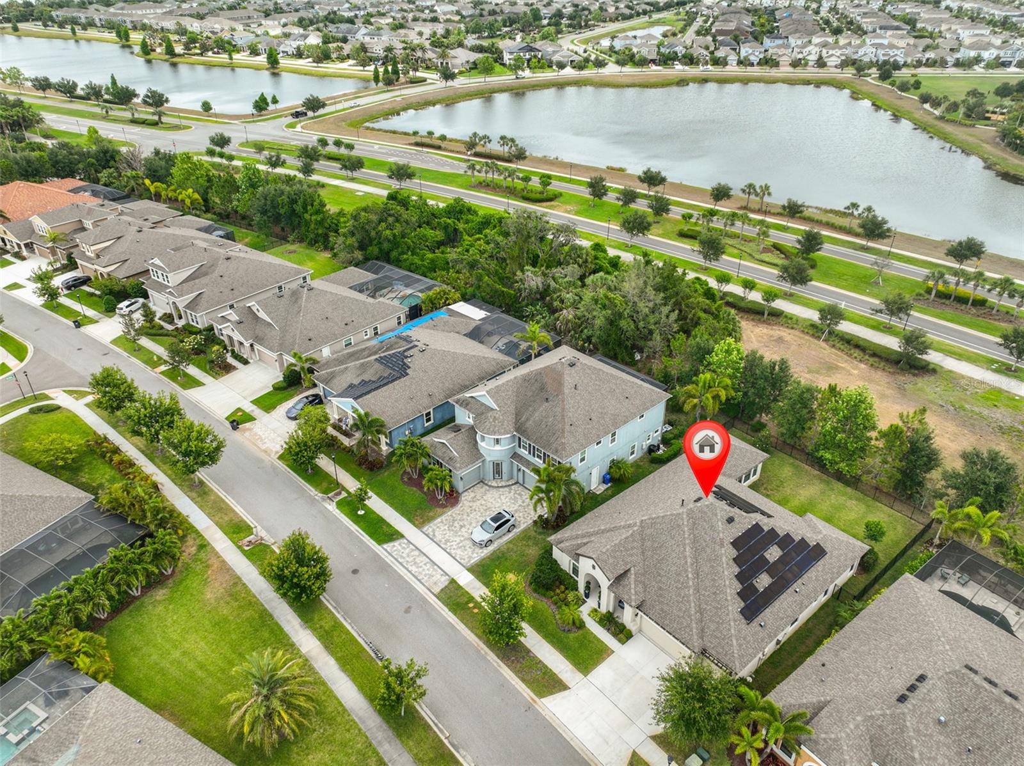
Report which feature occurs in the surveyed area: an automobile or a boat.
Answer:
automobile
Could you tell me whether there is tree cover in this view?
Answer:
Yes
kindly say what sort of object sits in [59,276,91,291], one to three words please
car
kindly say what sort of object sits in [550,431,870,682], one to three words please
house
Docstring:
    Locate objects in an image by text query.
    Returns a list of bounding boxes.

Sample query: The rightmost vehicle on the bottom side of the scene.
[470,511,520,551]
